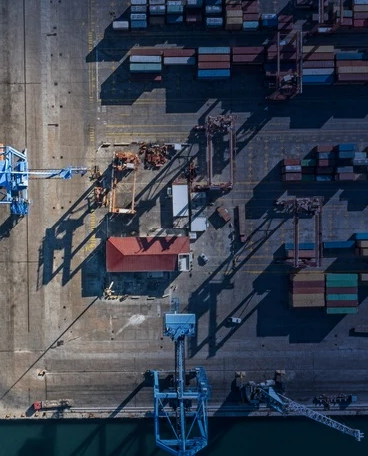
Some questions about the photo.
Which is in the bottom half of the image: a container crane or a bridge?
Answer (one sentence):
The feature located in the bottom half of the image is a container crane.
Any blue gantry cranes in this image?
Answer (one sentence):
Yes, a blue gantry crane can be made out from above.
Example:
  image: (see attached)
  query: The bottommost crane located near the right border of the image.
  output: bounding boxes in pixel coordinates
[236,371,366,440]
